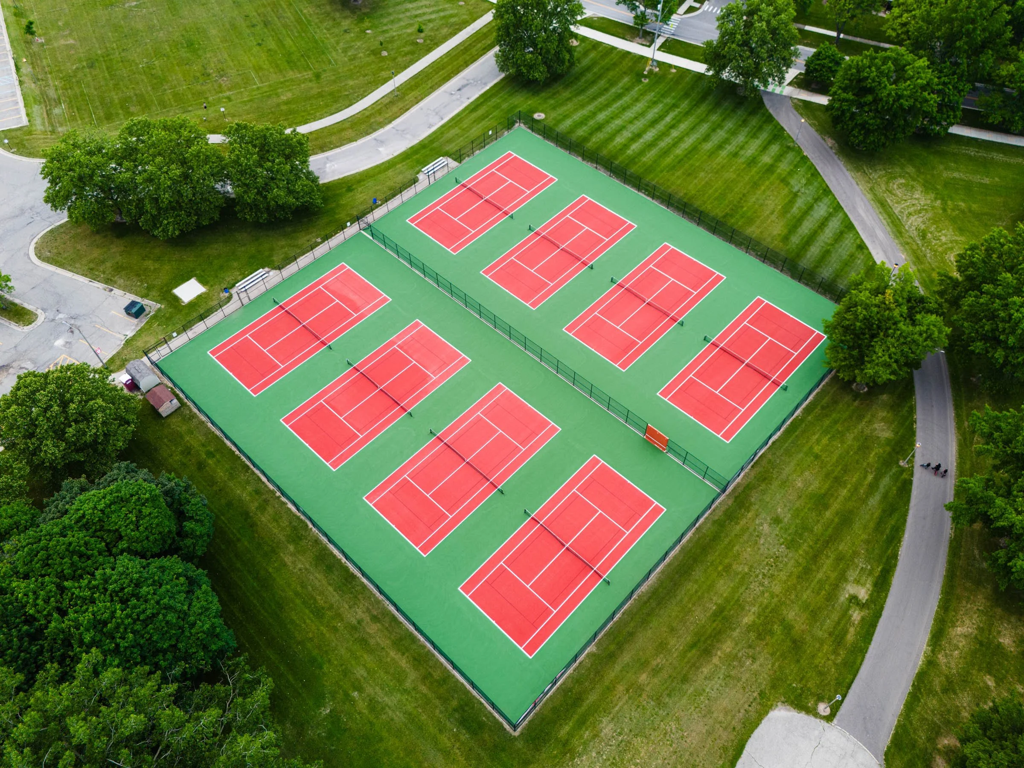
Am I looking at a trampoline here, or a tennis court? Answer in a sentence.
I can see a tennis court in this picture.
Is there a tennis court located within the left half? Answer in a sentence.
Yes, the scene does show a tennis court within the left half.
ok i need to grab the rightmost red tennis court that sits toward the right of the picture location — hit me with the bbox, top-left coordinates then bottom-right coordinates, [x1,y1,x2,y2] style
[658,297,825,442]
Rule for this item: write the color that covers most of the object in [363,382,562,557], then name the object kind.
red tennis court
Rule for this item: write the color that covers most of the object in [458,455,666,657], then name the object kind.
red tennis court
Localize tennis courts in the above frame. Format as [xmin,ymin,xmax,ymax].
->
[406,151,558,254]
[363,382,562,557]
[209,262,391,396]
[658,297,825,442]
[458,455,666,657]
[480,194,637,309]
[564,243,726,371]
[281,319,471,471]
